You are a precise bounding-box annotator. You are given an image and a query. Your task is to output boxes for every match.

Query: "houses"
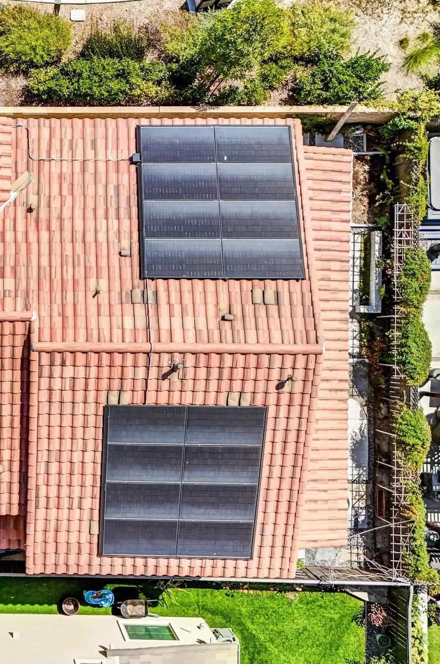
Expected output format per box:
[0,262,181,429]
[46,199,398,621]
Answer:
[0,614,242,664]
[0,111,356,583]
